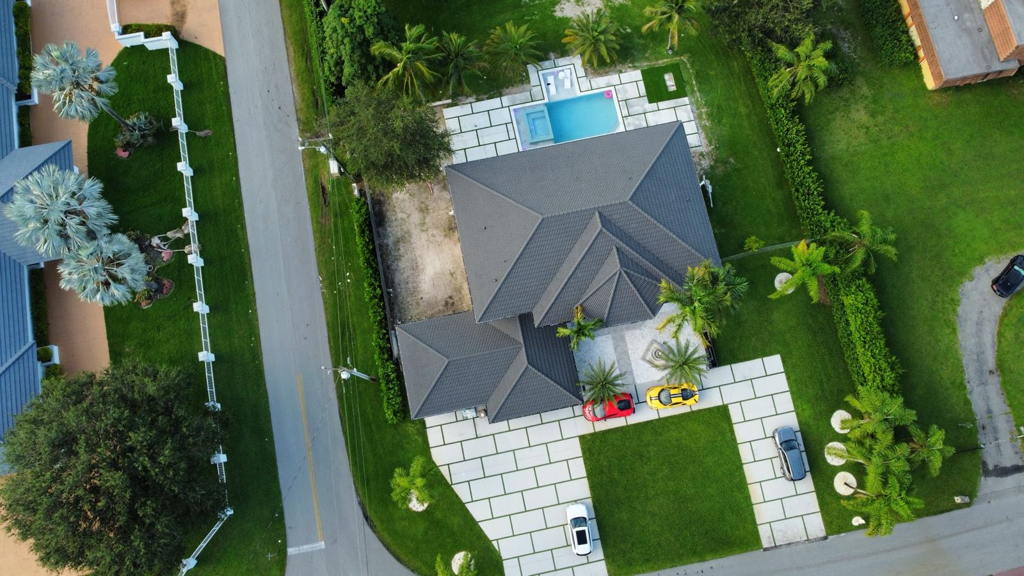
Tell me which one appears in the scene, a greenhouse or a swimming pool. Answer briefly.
swimming pool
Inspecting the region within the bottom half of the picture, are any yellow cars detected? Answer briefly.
Yes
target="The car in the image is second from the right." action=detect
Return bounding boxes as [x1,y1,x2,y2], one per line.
[771,425,807,483]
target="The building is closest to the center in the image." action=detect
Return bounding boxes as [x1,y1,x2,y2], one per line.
[394,119,719,425]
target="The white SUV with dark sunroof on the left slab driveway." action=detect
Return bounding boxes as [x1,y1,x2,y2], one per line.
[566,501,593,558]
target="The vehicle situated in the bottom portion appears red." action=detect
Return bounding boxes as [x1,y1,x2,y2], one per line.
[583,395,635,426]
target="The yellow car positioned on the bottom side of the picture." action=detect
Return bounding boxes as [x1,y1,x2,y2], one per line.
[646,382,699,411]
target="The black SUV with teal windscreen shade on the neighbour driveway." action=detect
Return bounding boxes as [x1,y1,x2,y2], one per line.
[988,251,1024,298]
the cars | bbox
[583,395,635,426]
[566,501,593,558]
[646,382,699,411]
[771,425,807,483]
[988,251,1024,298]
